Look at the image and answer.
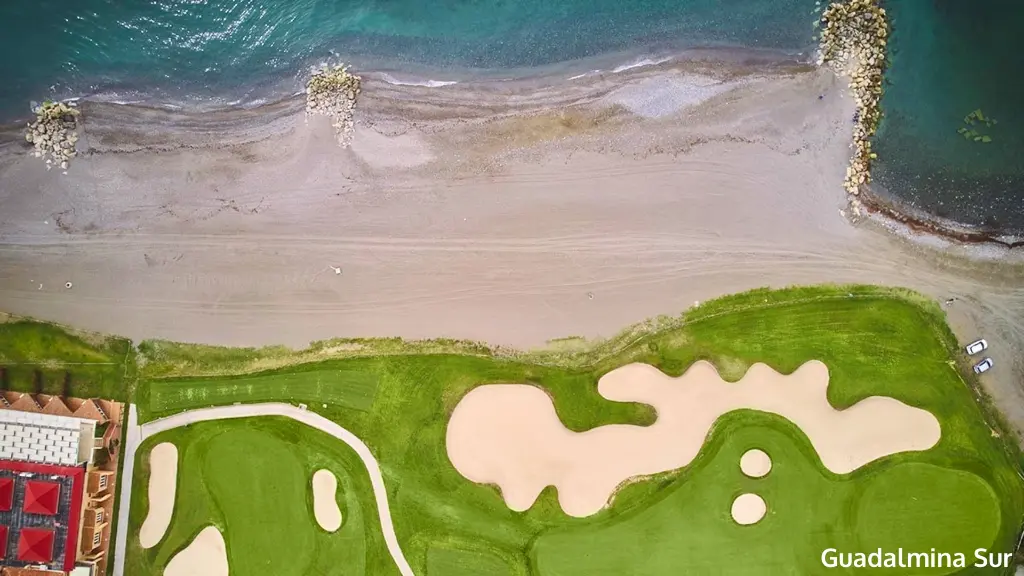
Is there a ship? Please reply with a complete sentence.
No, no ship is visible in the view.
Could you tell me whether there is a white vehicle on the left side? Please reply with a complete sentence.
No, on the left side there is no white vehicle.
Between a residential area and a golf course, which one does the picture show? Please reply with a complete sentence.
The area seen from above is a golf course.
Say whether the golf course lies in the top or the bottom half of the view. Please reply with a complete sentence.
The bottom half of the photo is where the golf course is.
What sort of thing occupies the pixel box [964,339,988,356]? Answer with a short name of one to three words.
car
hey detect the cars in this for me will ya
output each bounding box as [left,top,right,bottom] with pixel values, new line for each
[972,358,994,375]
[964,339,988,356]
